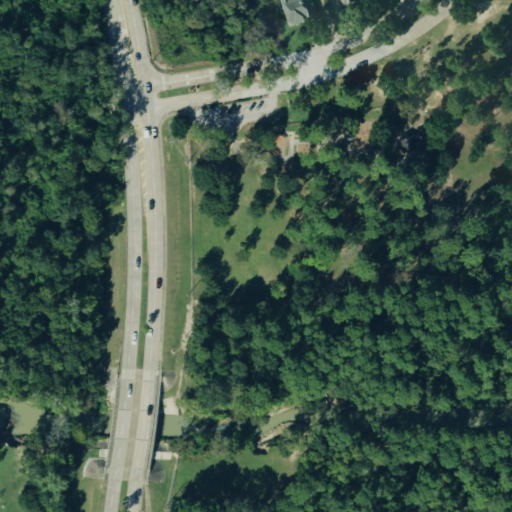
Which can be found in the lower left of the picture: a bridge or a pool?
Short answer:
bridge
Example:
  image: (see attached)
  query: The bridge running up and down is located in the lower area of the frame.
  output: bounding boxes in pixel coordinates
[104,370,162,482]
